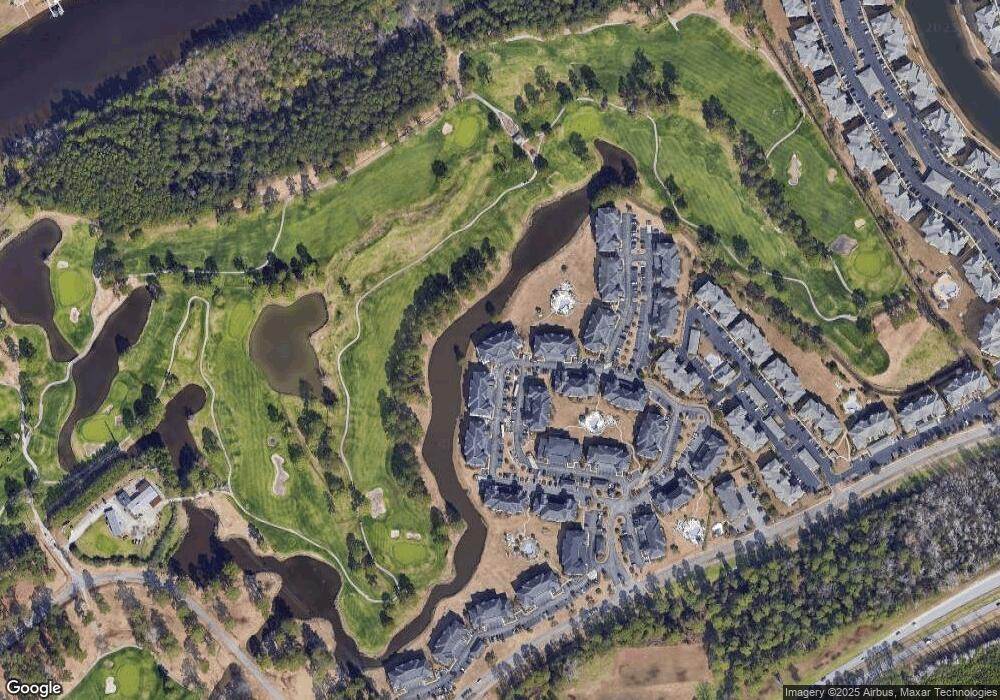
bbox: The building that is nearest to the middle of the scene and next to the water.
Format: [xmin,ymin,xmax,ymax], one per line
[474,326,524,368]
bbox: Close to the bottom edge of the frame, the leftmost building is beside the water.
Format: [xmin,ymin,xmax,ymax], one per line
[386,656,438,697]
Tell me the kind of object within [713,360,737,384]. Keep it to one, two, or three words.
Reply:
building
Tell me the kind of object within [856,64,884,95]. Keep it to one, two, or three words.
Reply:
building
